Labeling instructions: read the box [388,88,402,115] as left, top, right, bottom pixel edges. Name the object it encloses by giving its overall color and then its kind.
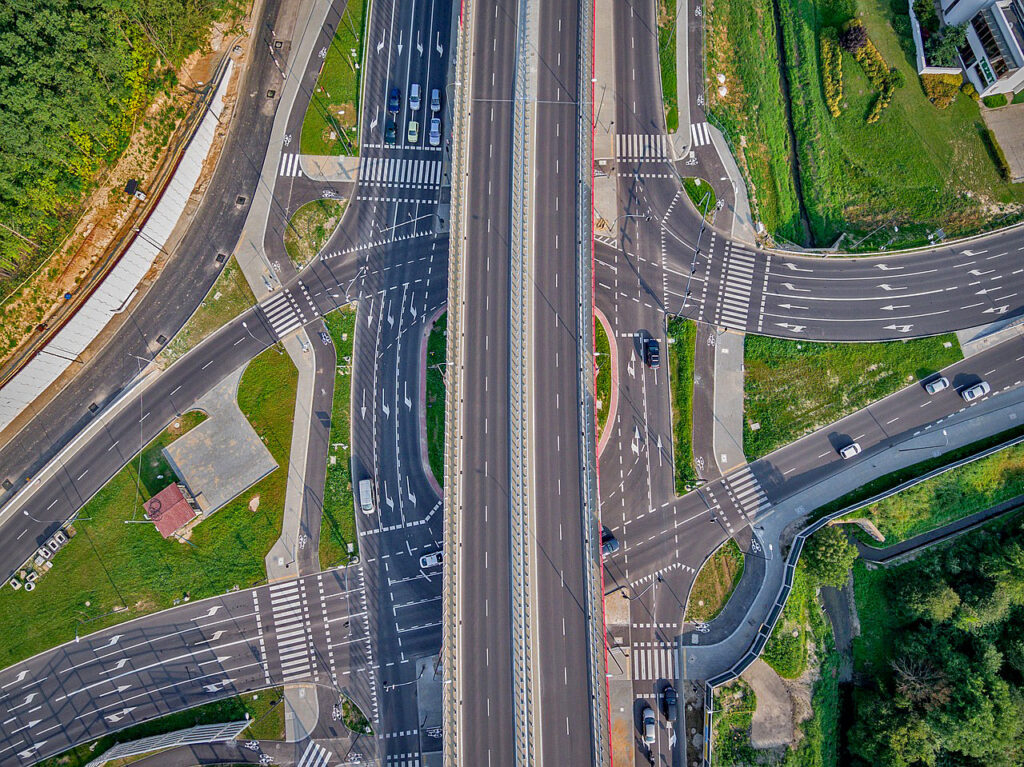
blue car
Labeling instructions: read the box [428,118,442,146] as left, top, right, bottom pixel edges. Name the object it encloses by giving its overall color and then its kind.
blue car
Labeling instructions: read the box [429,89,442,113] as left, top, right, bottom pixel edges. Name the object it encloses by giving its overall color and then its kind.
blue vehicle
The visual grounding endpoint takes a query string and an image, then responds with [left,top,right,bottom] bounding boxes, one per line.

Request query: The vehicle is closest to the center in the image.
[644,339,659,367]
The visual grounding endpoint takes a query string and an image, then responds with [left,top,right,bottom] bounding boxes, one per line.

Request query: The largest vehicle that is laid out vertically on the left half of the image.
[358,479,375,515]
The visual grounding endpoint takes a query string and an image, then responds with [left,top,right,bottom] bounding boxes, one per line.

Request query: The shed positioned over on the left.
[142,480,209,538]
